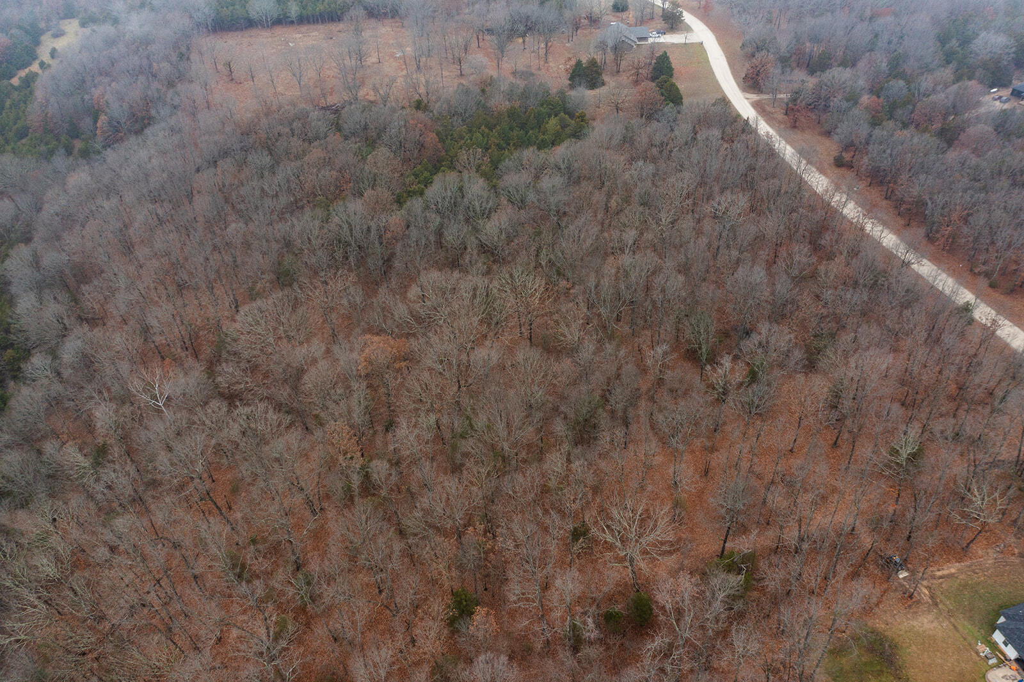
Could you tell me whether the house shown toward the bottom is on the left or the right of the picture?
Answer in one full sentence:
The house shown toward the bottom is on the right side of the image.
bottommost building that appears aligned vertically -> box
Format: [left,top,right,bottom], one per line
[990,592,1024,663]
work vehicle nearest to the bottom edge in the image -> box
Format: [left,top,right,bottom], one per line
[882,550,914,585]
